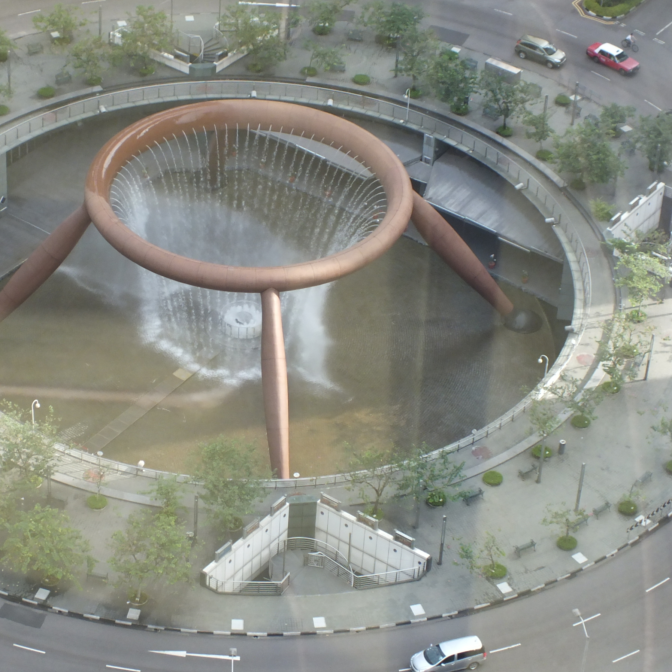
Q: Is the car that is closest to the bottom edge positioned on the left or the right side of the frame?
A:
right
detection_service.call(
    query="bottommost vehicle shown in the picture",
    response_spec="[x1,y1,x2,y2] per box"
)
[408,633,489,672]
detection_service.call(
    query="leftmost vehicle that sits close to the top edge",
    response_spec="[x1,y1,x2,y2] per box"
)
[514,32,571,69]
